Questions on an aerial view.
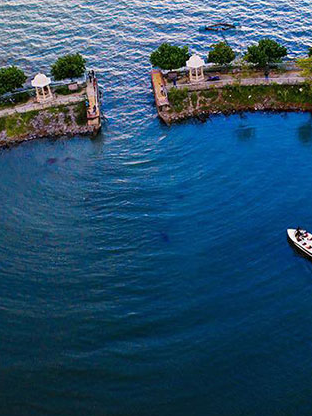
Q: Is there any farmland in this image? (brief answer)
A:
No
